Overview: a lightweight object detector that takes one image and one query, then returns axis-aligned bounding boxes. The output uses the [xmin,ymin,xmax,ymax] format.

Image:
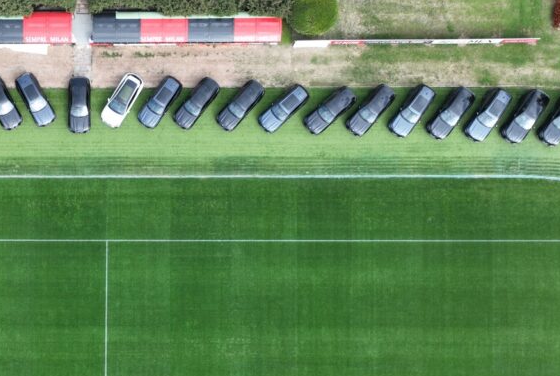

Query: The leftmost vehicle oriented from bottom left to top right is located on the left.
[101,73,144,130]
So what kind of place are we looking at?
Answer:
sports ground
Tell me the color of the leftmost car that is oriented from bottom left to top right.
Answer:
white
